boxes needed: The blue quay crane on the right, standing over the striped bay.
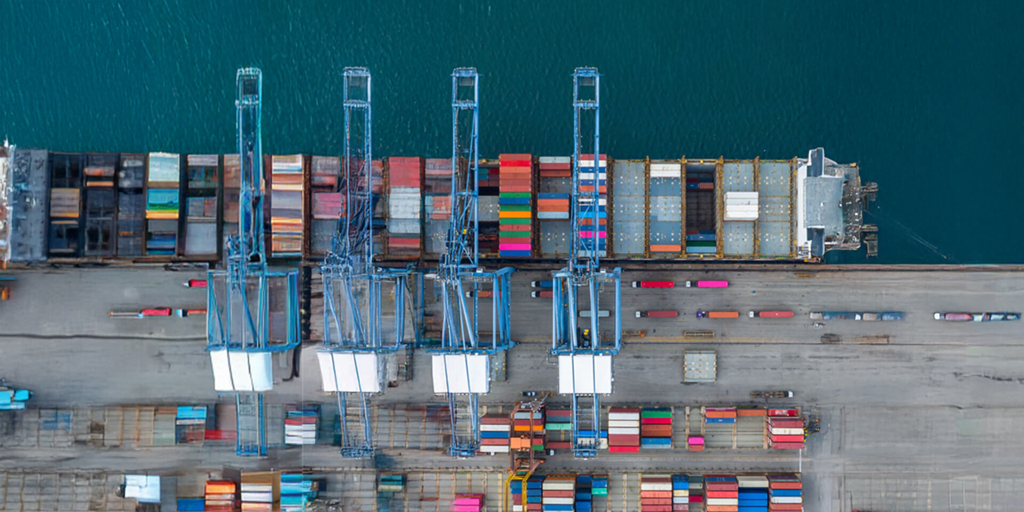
[543,68,629,457]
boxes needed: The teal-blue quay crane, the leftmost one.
[199,67,324,455]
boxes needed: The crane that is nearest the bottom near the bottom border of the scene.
[509,463,537,512]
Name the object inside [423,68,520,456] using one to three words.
container crane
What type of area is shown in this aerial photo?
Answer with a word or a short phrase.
port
